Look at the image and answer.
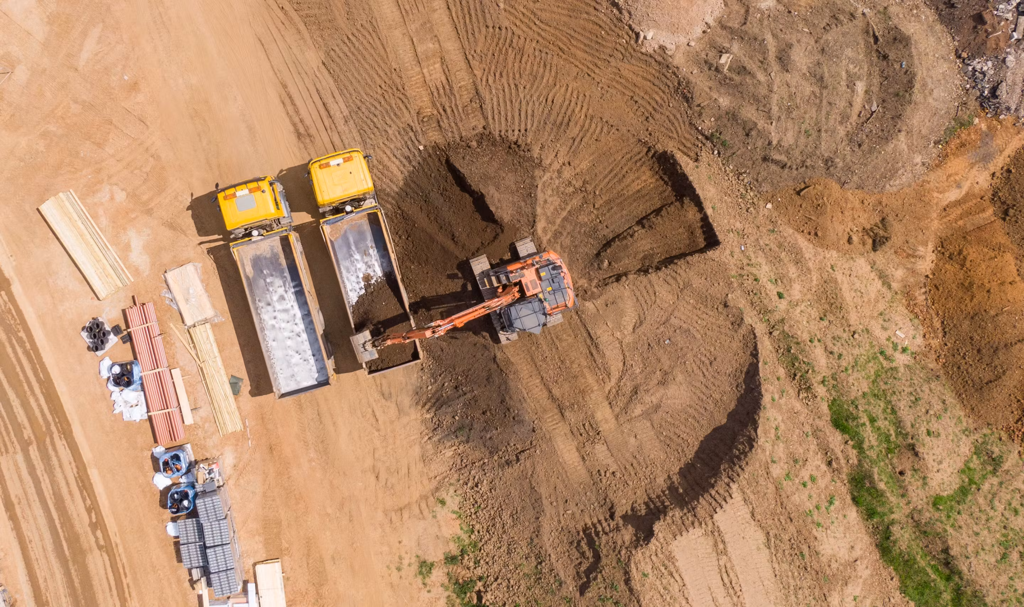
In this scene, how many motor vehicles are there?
3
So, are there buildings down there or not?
No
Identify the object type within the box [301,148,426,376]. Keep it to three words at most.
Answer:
truck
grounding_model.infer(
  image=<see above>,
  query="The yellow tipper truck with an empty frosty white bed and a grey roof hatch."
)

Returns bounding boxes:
[212,176,340,400]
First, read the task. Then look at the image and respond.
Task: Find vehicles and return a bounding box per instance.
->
[212,176,340,400]
[348,237,574,367]
[301,148,426,376]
